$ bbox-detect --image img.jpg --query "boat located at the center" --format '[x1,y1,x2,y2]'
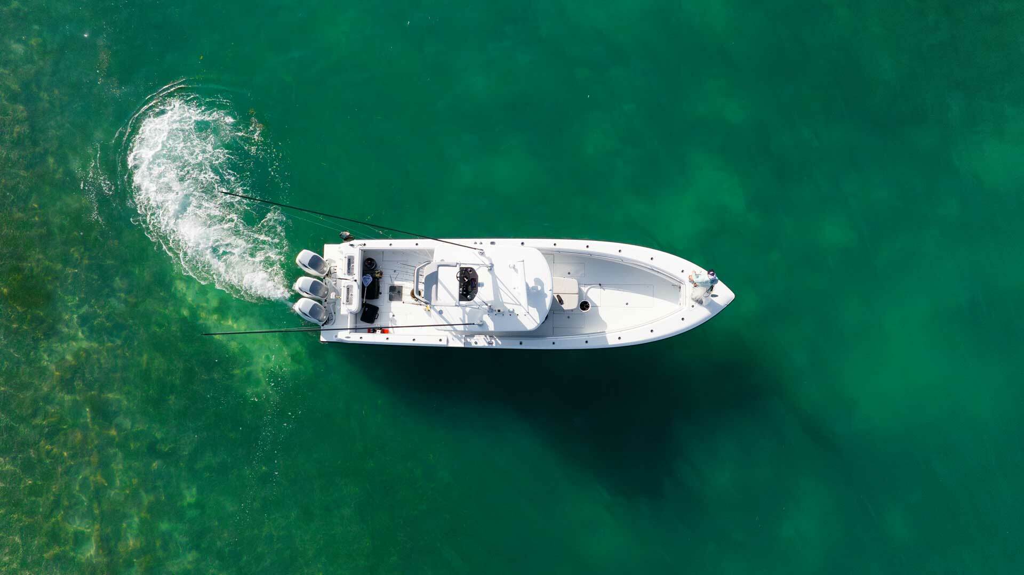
[202,191,735,349]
